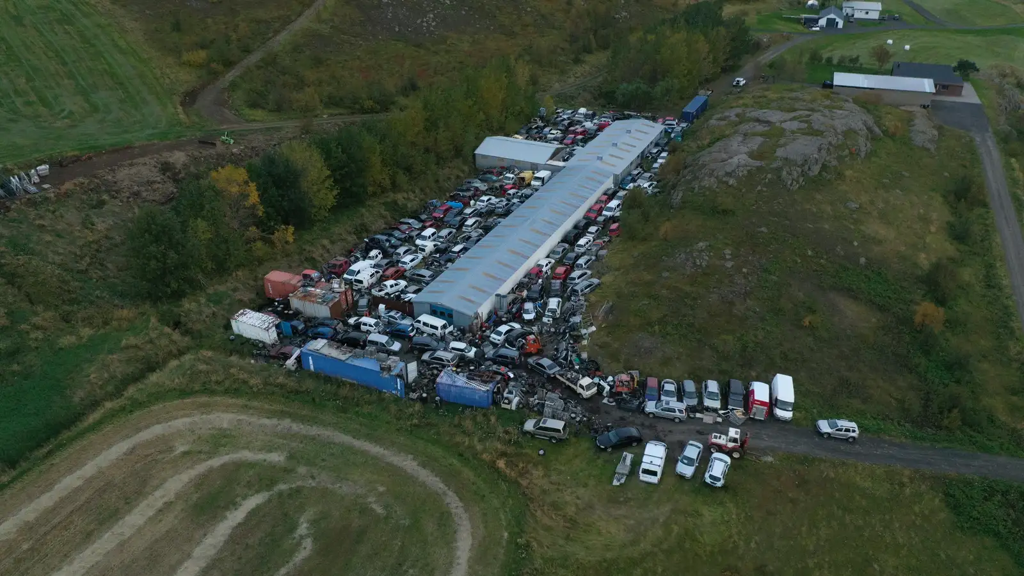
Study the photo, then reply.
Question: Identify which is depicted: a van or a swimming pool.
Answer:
van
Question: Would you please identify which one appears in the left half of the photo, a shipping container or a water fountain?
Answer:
shipping container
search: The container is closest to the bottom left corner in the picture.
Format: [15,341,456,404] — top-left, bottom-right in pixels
[230,307,284,345]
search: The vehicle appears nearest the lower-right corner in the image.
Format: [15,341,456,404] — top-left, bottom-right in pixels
[816,418,861,442]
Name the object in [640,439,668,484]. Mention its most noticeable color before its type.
white van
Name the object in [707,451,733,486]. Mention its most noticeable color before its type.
white car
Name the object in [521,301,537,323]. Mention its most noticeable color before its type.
white car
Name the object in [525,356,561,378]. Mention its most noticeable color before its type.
gray car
